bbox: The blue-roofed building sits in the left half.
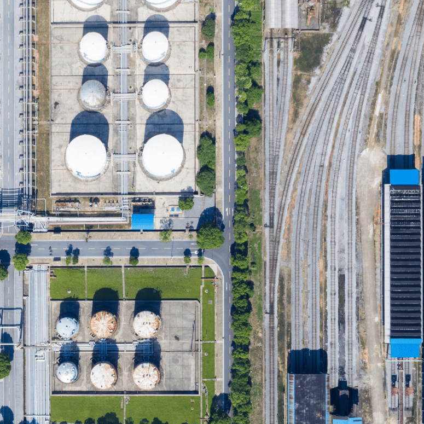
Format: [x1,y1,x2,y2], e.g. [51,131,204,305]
[131,209,154,230]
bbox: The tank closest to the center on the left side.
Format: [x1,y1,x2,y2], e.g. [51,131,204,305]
[140,134,184,179]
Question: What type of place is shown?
industrial area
